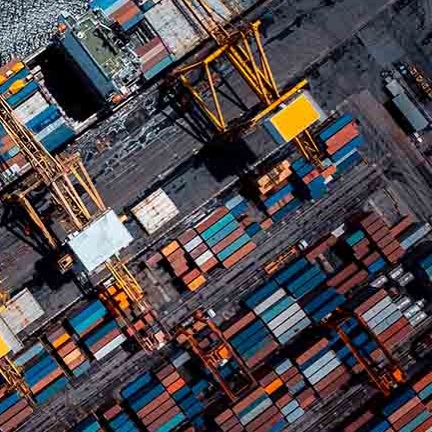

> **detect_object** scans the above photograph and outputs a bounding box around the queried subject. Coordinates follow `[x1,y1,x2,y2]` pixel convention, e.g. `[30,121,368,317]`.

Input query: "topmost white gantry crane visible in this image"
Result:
[0,83,152,311]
